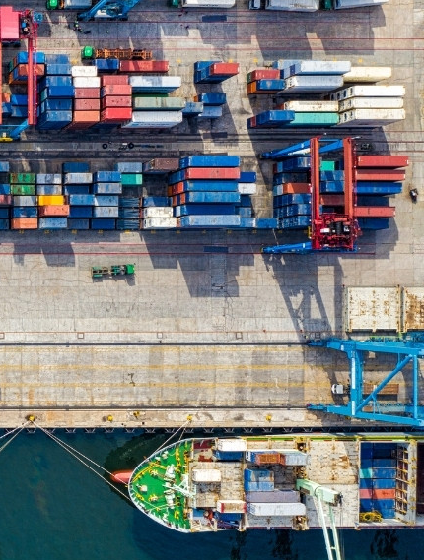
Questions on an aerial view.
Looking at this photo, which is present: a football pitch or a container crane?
container crane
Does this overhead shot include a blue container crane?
Yes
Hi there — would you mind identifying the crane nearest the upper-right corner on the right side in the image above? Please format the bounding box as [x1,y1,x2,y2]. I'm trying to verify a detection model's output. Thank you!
[256,136,356,253]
